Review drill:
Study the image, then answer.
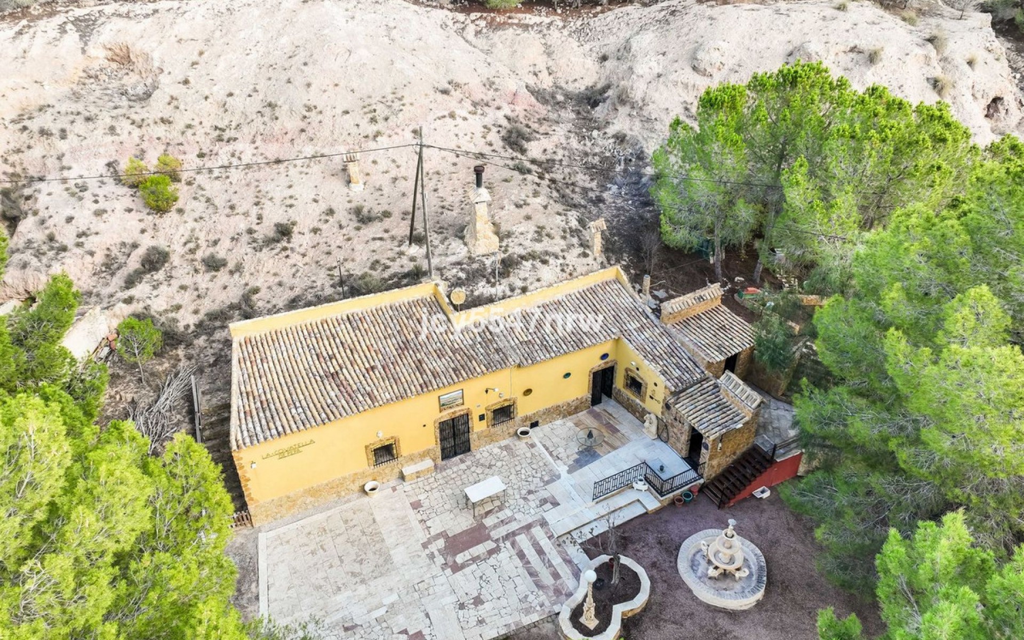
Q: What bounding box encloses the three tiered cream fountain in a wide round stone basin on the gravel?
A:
[676,523,771,612]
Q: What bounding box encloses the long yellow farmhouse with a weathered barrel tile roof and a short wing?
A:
[227,262,711,526]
